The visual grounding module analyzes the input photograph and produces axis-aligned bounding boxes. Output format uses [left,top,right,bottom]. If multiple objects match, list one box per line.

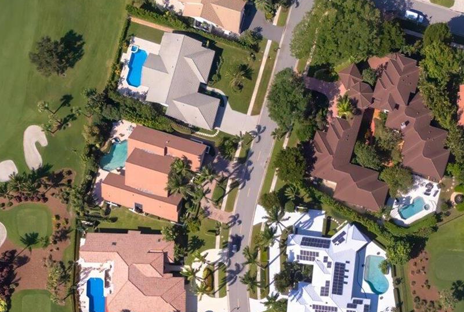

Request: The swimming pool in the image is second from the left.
[100,137,129,172]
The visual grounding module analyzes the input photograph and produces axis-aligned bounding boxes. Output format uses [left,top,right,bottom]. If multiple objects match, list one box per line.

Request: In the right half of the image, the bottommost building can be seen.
[287,224,370,312]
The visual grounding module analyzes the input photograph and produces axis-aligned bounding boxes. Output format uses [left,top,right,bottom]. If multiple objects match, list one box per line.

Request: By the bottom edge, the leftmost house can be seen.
[75,233,187,312]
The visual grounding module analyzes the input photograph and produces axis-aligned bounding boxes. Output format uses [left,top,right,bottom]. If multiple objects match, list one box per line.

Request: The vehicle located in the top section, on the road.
[405,8,423,21]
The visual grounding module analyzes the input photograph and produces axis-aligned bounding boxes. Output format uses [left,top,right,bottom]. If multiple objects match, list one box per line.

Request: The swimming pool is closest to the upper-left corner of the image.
[125,44,150,88]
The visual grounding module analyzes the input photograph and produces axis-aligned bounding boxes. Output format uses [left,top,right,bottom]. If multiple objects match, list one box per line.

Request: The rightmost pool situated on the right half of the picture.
[397,195,432,220]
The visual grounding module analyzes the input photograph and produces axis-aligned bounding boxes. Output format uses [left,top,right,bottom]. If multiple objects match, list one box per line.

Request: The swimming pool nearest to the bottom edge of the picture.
[86,276,106,312]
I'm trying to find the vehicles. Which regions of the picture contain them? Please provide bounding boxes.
[231,237,239,253]
[405,8,423,21]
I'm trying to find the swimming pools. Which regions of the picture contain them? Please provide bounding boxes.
[363,254,390,296]
[397,195,432,220]
[125,44,150,88]
[86,276,106,312]
[100,137,129,172]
